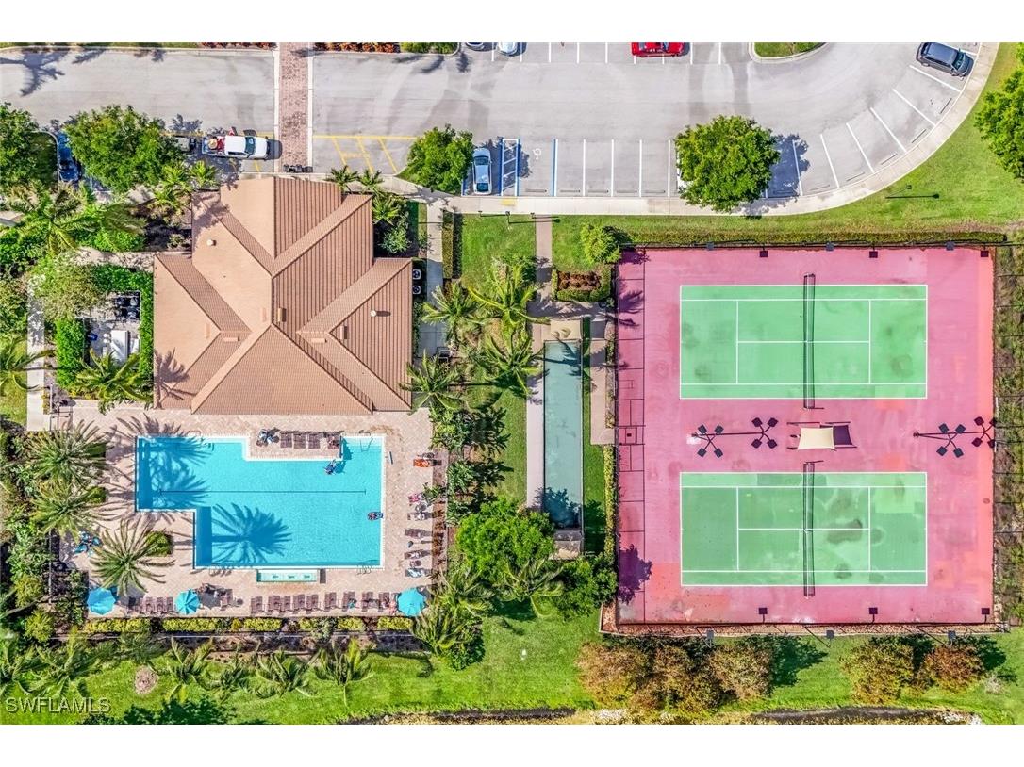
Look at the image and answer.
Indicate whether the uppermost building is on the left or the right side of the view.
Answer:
left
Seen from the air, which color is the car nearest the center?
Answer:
blue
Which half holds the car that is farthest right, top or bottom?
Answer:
top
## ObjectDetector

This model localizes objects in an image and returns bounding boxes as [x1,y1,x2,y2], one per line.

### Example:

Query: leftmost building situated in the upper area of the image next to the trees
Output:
[153,177,413,415]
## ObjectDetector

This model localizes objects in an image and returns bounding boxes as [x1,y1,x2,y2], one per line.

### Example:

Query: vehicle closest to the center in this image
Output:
[472,145,494,195]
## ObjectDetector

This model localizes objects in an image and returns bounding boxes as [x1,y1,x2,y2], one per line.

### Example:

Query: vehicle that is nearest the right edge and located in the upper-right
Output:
[915,41,972,78]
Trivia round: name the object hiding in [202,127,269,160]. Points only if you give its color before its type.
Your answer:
white truck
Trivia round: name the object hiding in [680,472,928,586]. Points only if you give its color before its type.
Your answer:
green tennis court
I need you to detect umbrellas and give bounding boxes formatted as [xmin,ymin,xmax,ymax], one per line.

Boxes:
[90,586,117,614]
[399,588,425,614]
[175,587,201,613]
